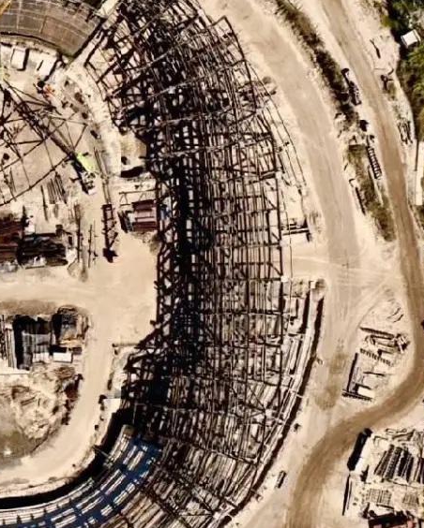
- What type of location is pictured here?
sports ground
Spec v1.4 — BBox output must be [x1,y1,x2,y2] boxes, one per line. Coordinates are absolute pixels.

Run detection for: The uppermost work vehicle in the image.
[371,25,394,46]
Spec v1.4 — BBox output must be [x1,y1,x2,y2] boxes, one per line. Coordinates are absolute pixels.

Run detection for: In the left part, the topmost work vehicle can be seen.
[31,89,55,102]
